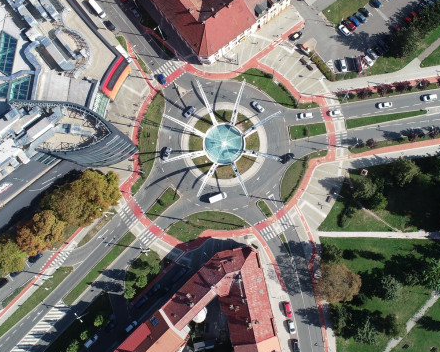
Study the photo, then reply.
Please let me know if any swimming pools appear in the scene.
No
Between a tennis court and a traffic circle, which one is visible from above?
traffic circle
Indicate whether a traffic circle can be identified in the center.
Yes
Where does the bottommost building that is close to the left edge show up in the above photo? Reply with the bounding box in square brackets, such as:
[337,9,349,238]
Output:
[0,100,137,196]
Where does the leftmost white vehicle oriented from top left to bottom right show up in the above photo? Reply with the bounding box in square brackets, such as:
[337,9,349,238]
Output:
[89,0,105,17]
